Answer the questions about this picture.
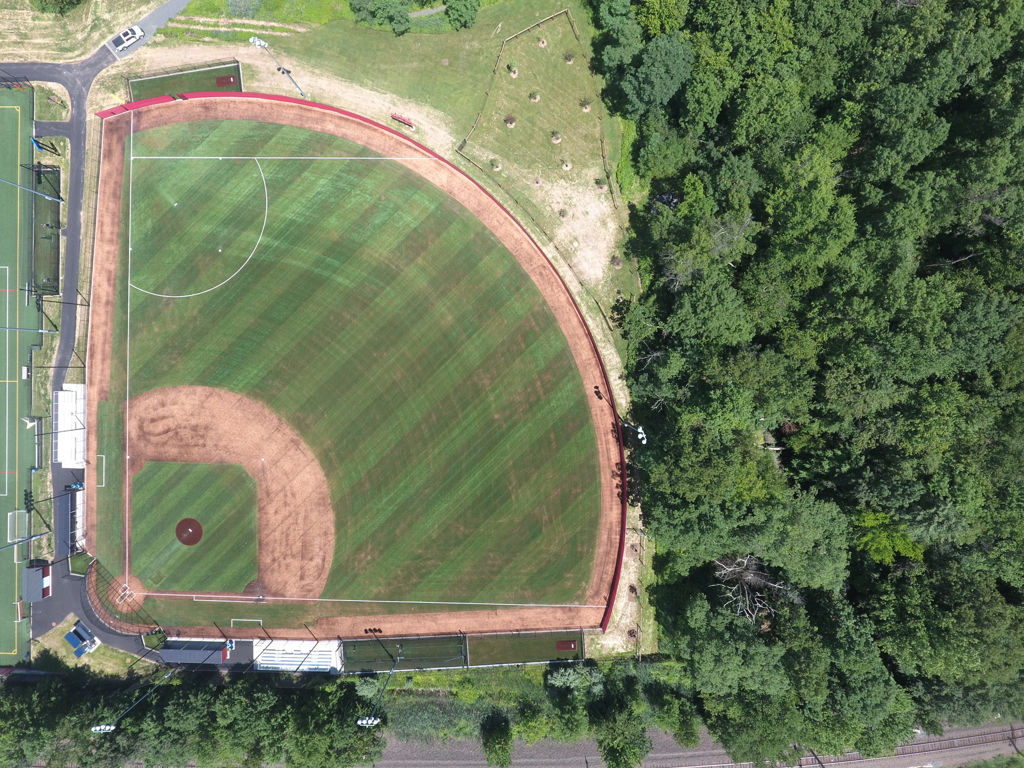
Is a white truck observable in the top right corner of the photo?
No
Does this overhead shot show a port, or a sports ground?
sports ground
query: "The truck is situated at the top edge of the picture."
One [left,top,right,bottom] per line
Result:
[111,24,143,51]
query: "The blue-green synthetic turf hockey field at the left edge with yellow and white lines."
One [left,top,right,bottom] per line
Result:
[0,86,42,666]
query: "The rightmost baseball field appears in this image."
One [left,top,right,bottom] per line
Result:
[86,98,623,640]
